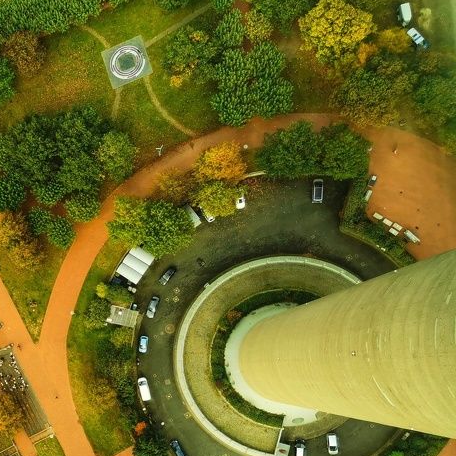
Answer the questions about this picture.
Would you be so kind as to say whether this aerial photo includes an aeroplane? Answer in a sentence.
No, there appears to be no aeroplane in this shot.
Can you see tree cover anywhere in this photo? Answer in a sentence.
Yes, the picture does contain tree cover.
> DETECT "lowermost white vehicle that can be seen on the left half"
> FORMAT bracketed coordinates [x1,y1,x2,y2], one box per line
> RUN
[138,378,151,400]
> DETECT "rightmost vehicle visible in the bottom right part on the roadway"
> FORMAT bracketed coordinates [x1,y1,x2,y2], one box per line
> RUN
[325,434,339,455]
